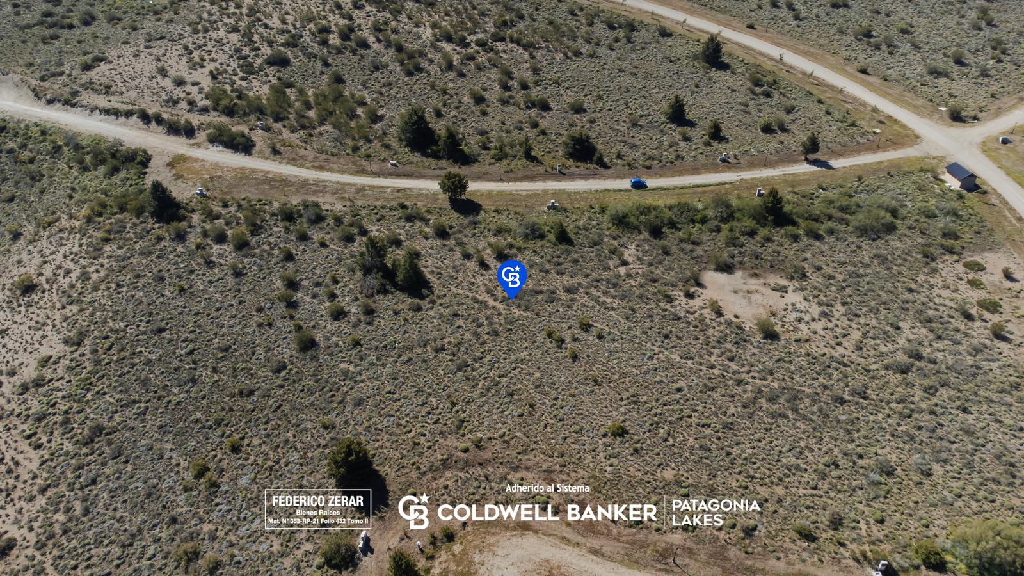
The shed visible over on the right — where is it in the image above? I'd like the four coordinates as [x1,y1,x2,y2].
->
[942,163,981,188]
